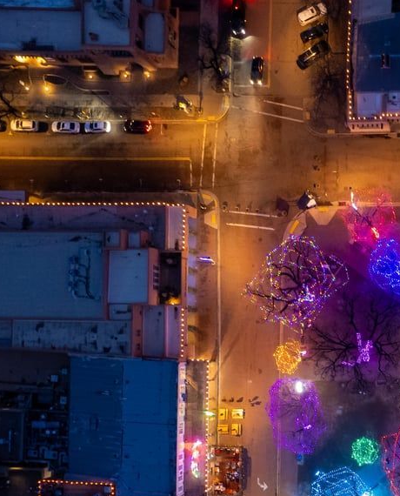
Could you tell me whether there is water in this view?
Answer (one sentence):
No, water can't be seen anywhere here.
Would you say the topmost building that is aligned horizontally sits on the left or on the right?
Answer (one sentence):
The topmost building that is aligned horizontally sits on the left side.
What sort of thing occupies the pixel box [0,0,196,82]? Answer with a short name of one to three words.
building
